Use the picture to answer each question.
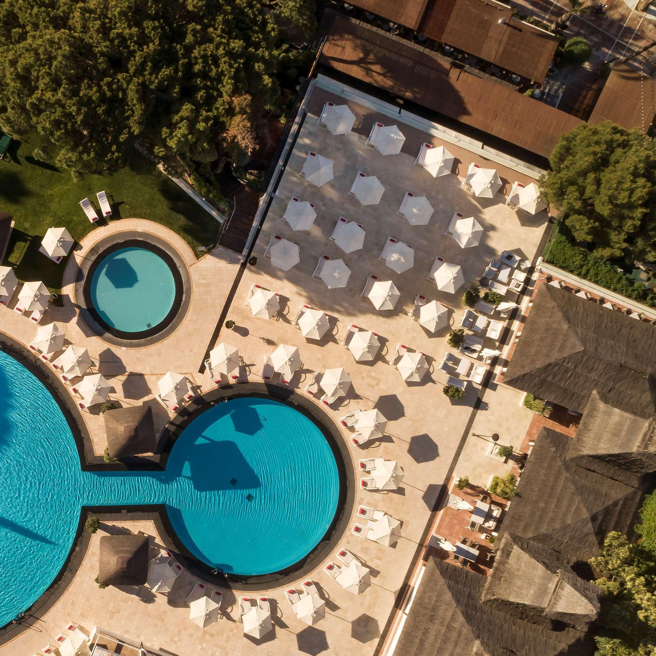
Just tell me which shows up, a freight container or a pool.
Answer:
pool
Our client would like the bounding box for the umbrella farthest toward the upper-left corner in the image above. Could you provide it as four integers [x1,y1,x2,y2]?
[43,225,74,258]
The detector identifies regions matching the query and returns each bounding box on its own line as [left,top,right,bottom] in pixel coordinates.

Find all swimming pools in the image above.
[90,247,176,332]
[0,350,341,630]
